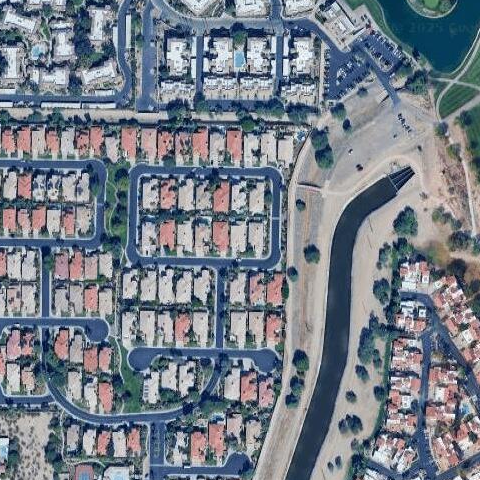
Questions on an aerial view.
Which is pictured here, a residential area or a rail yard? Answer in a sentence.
The picture captures a residential area.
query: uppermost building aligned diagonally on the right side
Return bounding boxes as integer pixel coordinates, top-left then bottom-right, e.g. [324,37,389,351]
[320,0,357,44]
